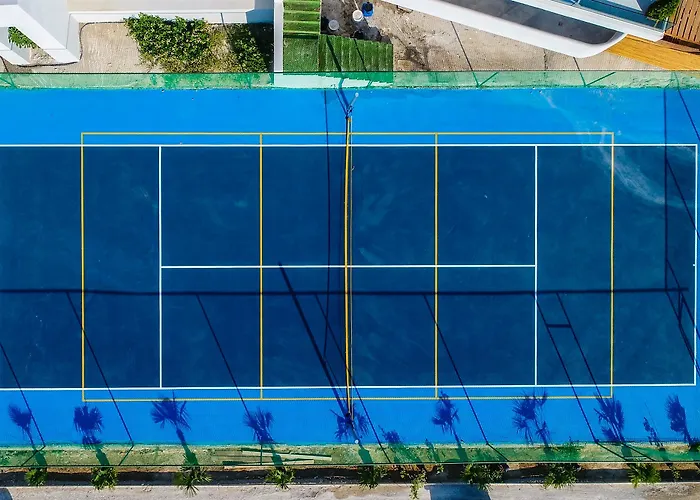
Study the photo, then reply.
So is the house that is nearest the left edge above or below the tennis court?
above it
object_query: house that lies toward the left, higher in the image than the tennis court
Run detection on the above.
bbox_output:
[0,0,79,62]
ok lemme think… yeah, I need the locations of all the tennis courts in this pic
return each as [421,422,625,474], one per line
[0,88,700,446]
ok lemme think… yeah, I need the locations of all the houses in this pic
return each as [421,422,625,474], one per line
[391,0,679,56]
[0,0,79,62]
